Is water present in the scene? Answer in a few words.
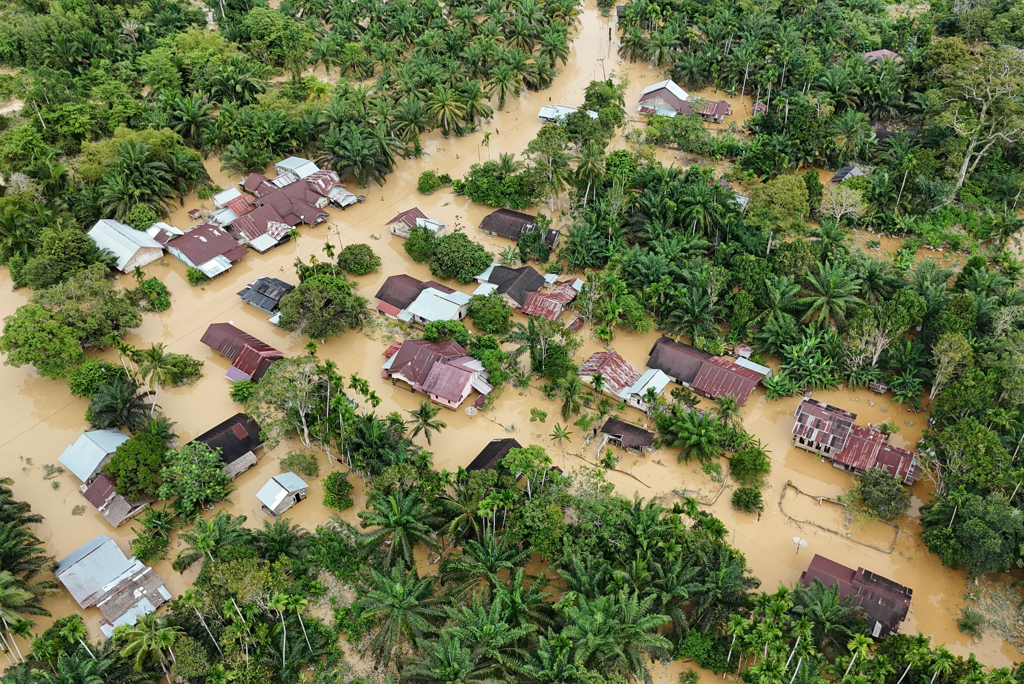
Yes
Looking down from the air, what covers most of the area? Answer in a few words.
trees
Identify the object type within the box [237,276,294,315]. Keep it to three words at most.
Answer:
house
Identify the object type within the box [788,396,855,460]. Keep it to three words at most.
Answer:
house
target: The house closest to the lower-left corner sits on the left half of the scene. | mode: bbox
[52,534,164,637]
